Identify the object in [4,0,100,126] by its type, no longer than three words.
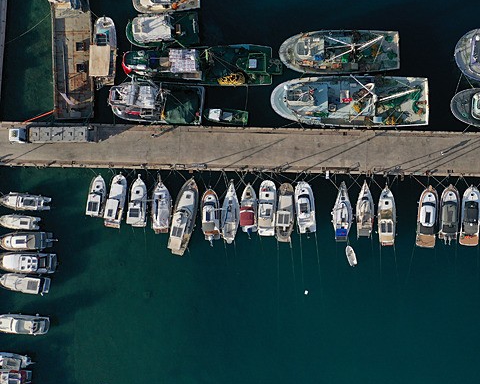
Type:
ship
